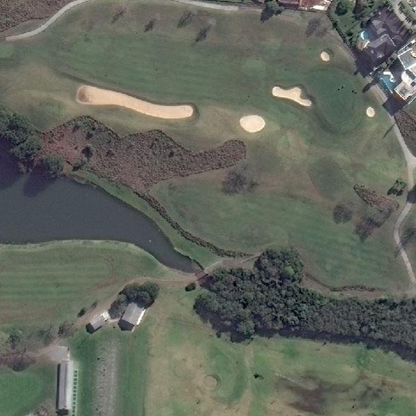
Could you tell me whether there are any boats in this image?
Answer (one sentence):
No, I can see no boat in this picture.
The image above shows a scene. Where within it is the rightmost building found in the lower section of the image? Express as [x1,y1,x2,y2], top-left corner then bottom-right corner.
[122,303,146,325]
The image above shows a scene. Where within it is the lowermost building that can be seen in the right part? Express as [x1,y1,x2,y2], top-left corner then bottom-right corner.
[394,47,416,100]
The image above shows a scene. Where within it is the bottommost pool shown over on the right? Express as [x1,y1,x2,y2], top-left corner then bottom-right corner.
[377,74,398,92]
